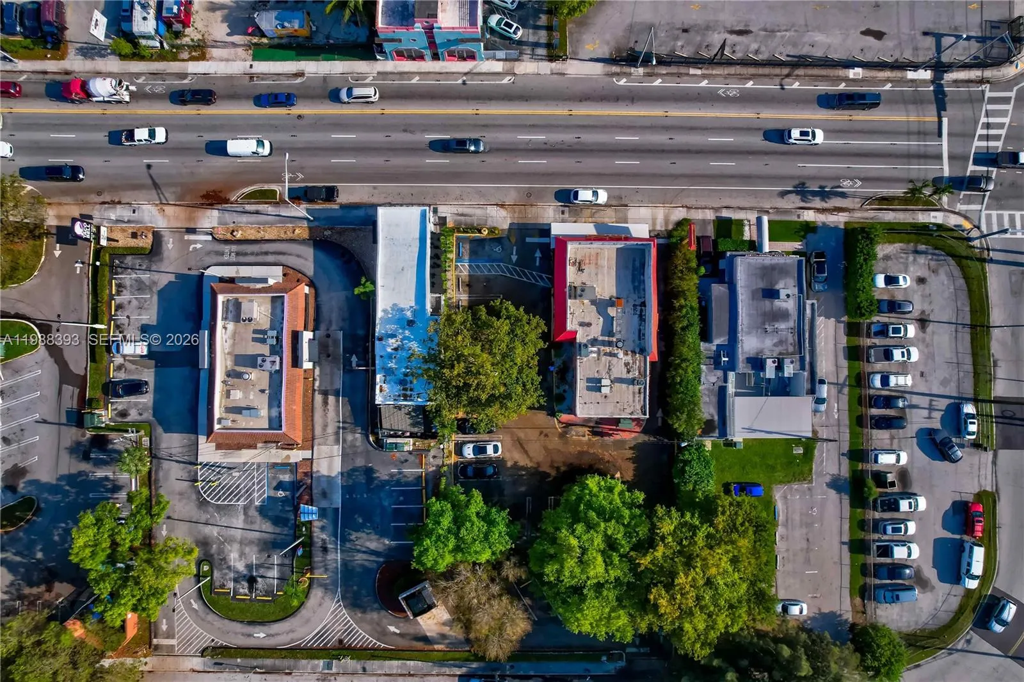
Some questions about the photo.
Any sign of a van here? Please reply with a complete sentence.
Yes, this view includes a van.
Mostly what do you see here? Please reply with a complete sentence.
For the most part, this view shows paved ground.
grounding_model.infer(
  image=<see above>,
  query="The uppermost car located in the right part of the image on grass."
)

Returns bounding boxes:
[731,481,764,498]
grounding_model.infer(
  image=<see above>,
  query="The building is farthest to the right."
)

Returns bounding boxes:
[694,246,816,439]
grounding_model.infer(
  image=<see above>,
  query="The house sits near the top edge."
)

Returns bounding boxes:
[377,0,487,64]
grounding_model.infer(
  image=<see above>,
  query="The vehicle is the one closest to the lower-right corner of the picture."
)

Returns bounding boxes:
[985,595,1018,633]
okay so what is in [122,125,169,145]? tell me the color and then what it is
white vehicle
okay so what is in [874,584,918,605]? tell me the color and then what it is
blue car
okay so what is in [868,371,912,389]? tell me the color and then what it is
white car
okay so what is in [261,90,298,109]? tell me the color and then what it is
blue car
